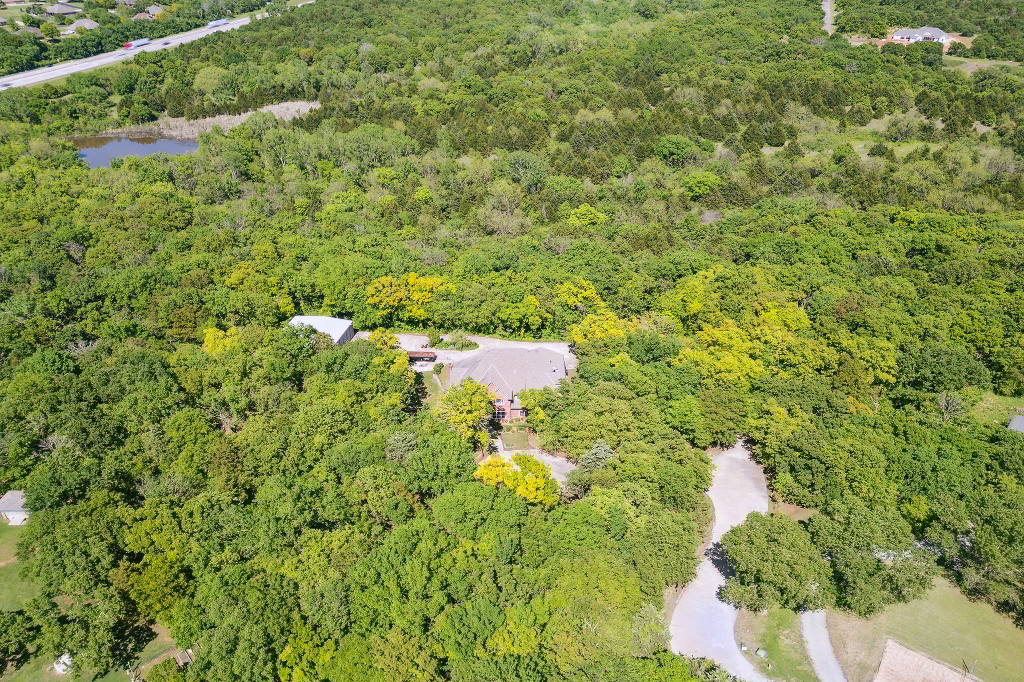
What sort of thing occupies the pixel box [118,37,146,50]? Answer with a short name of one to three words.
vehicle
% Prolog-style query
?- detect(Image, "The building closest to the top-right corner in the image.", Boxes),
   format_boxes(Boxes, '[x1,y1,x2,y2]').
[889,26,954,45]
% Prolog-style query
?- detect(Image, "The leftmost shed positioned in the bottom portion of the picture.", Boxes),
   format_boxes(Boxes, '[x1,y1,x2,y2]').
[0,489,36,530]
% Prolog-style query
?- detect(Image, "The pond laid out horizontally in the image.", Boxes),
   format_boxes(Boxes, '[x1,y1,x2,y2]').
[66,135,198,167]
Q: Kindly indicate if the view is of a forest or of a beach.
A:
forest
